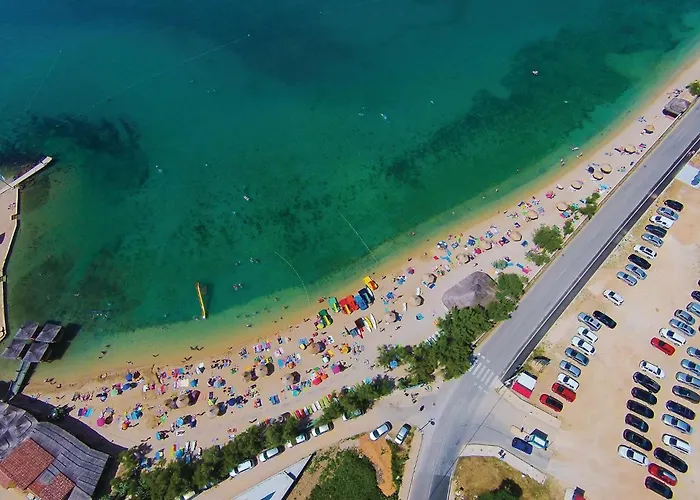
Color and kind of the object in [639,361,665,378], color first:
white car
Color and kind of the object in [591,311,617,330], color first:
black car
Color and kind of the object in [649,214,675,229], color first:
white vehicle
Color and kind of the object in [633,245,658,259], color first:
white car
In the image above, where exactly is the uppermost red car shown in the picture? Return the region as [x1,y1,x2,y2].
[649,338,676,356]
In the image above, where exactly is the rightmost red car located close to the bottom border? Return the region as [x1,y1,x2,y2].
[647,463,677,486]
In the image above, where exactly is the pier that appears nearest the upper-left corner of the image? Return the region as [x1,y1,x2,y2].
[0,154,53,343]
